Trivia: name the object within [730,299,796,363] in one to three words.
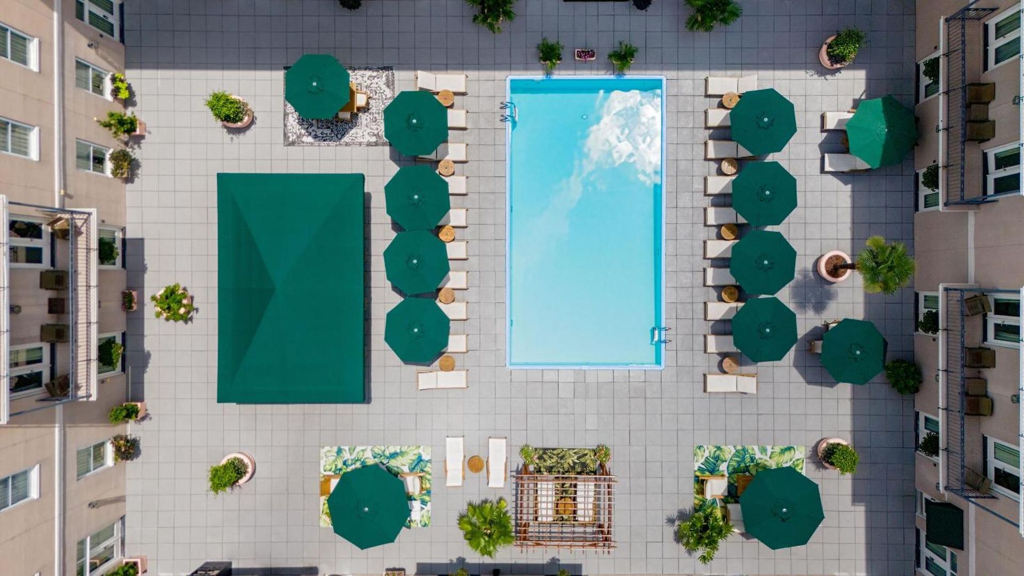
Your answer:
umbrella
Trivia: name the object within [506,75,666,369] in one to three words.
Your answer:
swimming pool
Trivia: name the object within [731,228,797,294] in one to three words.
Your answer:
umbrella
